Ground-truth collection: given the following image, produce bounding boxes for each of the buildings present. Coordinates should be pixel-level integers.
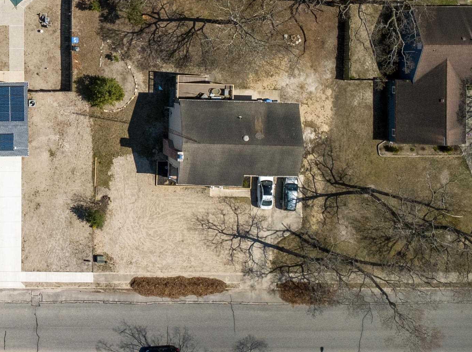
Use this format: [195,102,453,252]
[162,101,303,186]
[386,5,472,144]
[0,81,29,157]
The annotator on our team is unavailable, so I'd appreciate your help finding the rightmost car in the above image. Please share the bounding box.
[282,175,302,210]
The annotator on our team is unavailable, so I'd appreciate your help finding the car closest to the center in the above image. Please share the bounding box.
[257,177,278,210]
